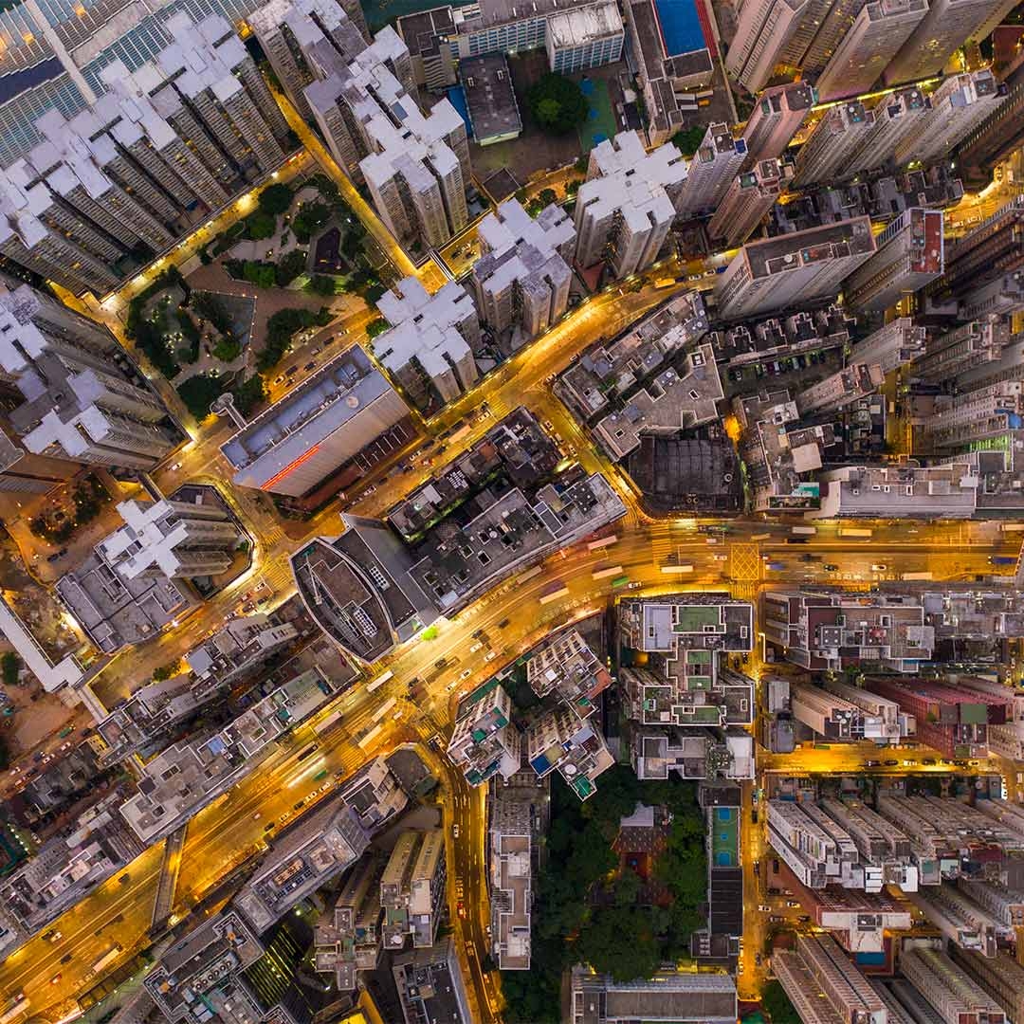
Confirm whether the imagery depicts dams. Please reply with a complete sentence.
No, there is no dam in the image.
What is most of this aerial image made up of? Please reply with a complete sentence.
The largest share of the image is taken up by buildings.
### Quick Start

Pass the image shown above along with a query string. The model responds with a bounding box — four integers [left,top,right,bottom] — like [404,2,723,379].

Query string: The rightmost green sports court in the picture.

[713,809,737,867]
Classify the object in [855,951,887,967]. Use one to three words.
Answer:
swimming pool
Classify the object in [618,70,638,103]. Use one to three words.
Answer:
house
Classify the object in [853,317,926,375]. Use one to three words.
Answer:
building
